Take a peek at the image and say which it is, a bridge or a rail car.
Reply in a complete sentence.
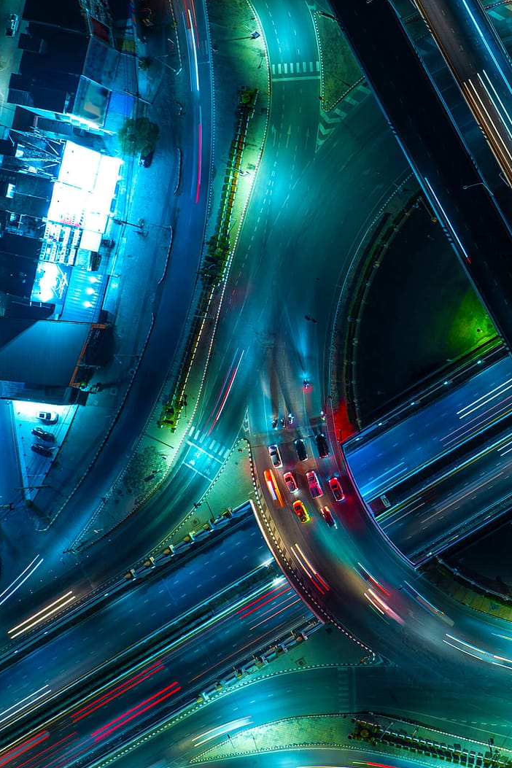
I can see a bridge in this picture.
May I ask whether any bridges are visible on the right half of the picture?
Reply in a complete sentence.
Yes, a bridge is visible on the right half of the picture.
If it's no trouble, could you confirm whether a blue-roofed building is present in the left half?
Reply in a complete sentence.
Yes, looking in the left half, one can make out a blue-roofed building.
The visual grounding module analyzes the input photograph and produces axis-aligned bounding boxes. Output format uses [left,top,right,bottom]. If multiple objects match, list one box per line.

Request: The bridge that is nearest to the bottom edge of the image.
[250,436,416,624]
